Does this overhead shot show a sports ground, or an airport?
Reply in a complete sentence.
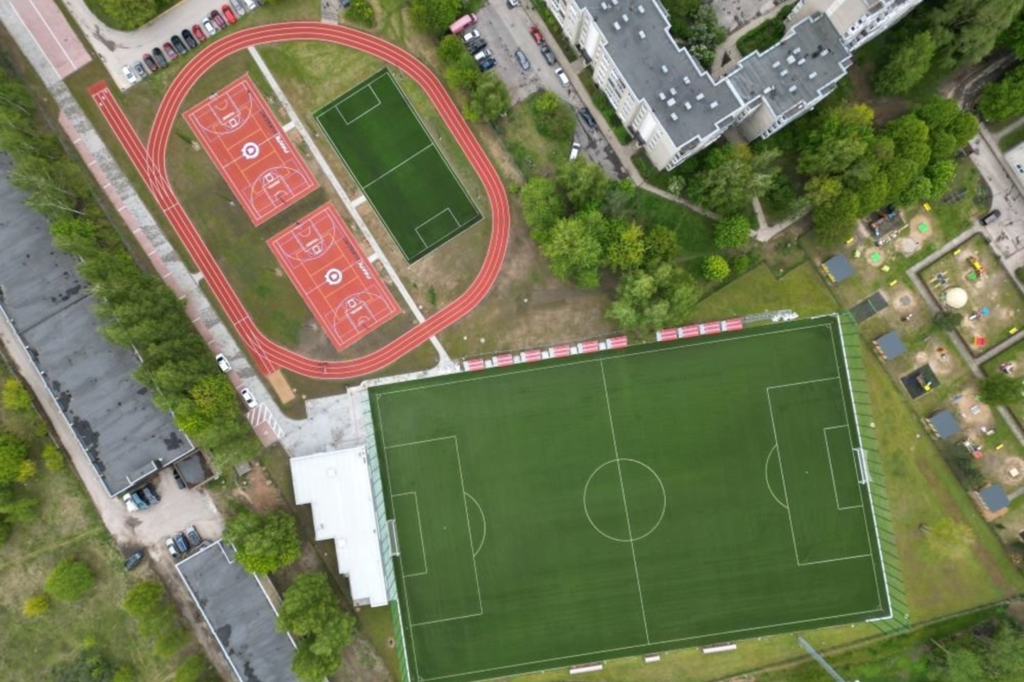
It's a sports ground.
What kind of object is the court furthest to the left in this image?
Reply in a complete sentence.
I'd say the court furthest to the left is a basketball court.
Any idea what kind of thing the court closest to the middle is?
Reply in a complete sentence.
The court closest to the middle appears to be a basketball court.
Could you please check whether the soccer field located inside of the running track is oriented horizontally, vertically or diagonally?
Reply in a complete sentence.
What the image shows is the soccer field located inside of the running track lying diagonally.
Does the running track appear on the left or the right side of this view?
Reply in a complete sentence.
The running track appears in the left half of the scene.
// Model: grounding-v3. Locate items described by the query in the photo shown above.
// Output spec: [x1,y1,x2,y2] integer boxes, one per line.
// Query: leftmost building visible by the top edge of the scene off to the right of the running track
[557,0,743,173]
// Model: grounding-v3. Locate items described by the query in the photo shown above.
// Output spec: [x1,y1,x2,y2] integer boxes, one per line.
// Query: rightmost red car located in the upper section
[529,27,544,45]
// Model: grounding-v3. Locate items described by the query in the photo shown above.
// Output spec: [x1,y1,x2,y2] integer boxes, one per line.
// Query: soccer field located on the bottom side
[369,316,889,682]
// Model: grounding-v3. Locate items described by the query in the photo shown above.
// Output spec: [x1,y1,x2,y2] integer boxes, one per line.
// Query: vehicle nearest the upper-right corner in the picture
[979,209,1001,225]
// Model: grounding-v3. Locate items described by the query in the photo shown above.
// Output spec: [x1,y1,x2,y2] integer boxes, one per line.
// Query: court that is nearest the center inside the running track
[267,201,402,353]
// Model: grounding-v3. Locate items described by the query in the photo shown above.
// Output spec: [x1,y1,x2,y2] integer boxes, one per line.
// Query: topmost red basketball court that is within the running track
[182,74,320,227]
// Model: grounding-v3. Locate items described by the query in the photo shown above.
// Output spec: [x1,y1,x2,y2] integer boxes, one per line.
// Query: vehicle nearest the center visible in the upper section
[569,140,581,162]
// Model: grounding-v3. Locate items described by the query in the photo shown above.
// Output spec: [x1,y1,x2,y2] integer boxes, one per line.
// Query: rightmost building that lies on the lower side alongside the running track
[290,445,391,609]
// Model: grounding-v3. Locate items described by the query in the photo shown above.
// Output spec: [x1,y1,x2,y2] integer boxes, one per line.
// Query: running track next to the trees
[88,21,510,379]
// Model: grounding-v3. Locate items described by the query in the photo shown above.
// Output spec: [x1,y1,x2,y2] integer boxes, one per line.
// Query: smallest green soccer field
[312,66,484,264]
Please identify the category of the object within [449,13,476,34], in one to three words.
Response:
vehicle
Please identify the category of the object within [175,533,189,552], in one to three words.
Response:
car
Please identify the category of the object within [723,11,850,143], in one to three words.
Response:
building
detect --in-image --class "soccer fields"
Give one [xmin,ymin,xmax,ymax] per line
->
[369,316,889,682]
[312,66,484,264]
